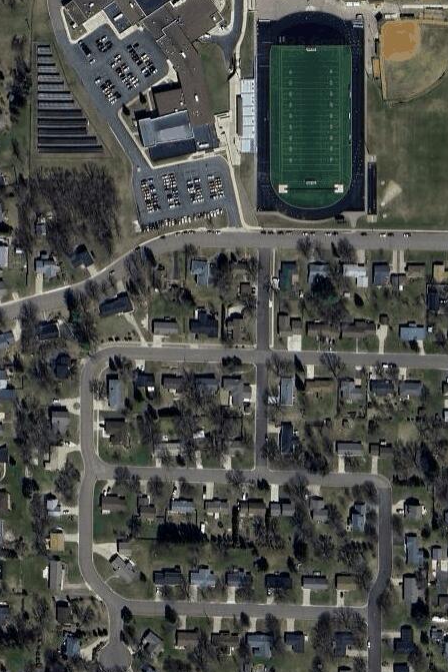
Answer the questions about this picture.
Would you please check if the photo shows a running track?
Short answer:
Yes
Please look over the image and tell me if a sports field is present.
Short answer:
Yes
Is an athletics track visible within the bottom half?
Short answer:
No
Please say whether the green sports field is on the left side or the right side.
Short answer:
right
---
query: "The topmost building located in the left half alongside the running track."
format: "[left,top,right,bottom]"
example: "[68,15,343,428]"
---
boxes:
[63,0,222,161]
